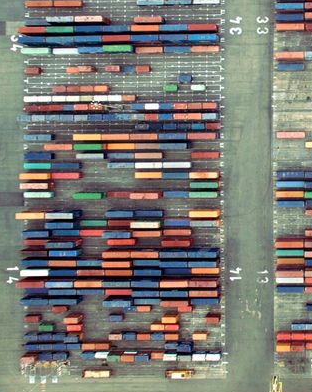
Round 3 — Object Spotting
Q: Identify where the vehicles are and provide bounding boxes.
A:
[164,362,198,379]
[84,362,119,379]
